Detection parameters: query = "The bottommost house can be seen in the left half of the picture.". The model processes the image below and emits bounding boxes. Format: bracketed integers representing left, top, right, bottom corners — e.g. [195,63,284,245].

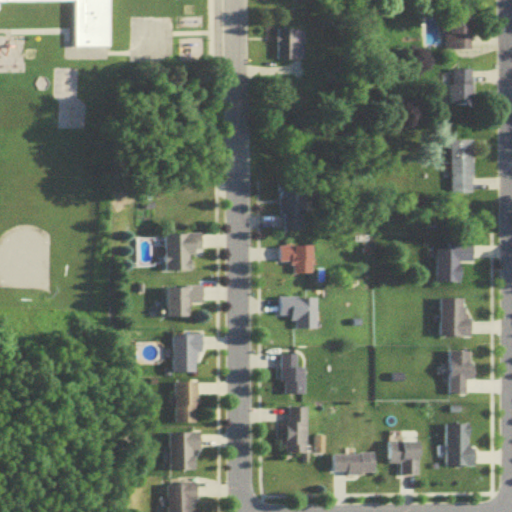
[168,482,197,512]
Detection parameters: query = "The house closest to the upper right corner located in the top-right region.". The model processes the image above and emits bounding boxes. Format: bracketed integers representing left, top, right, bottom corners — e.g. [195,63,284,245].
[446,22,472,49]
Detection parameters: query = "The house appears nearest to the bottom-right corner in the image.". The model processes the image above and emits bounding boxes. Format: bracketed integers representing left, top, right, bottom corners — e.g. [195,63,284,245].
[447,423,478,467]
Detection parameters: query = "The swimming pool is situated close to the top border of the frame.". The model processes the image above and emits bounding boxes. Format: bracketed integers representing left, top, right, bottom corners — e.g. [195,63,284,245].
[421,20,440,48]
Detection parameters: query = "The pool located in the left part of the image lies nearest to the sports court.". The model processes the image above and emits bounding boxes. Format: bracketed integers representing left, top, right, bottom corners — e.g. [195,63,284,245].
[136,237,158,267]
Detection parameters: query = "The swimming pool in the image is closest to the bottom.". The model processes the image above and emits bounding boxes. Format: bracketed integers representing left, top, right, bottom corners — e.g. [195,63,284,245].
[136,342,163,364]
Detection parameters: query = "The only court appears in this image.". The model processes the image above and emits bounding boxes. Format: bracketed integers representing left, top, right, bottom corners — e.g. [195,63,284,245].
[54,68,86,132]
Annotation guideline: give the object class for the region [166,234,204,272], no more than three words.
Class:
house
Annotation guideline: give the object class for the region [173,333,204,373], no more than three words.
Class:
house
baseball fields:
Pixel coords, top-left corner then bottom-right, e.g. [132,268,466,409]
[0,224,50,292]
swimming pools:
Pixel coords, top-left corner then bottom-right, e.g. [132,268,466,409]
[136,237,158,267]
[136,342,163,364]
[421,20,440,48]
